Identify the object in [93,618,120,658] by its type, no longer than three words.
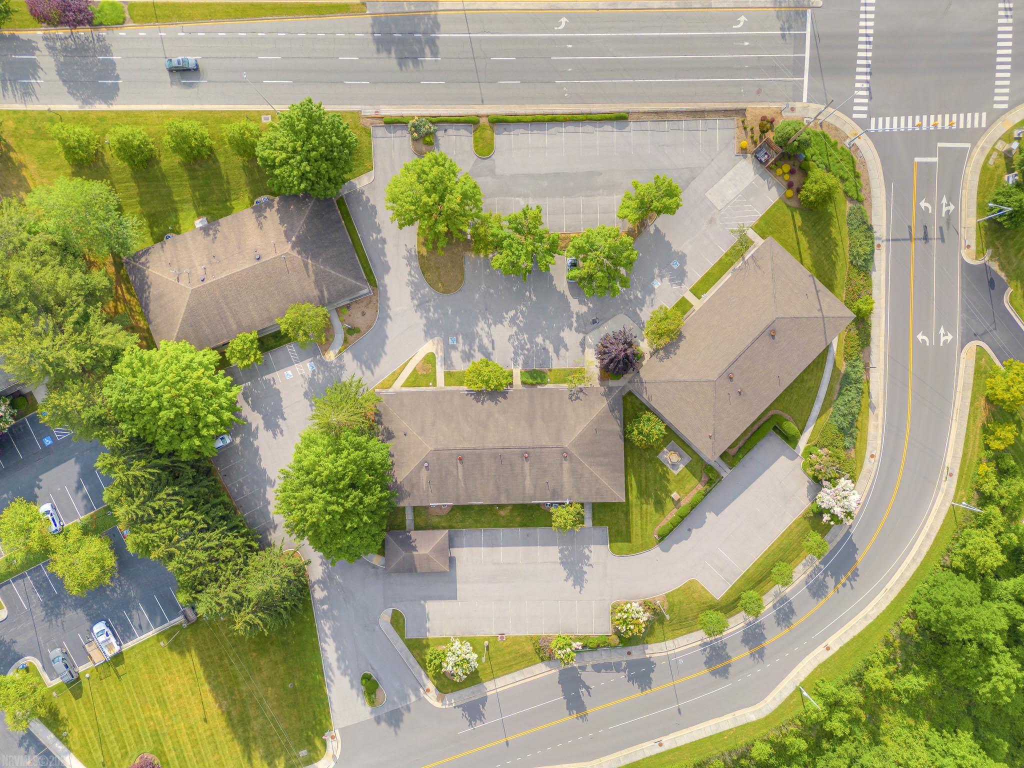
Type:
truck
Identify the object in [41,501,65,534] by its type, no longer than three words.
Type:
car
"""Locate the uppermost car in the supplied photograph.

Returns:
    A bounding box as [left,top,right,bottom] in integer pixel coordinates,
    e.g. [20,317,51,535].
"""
[166,57,200,73]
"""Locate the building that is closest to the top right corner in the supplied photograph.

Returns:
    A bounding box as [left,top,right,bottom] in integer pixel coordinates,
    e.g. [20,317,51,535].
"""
[626,236,856,462]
